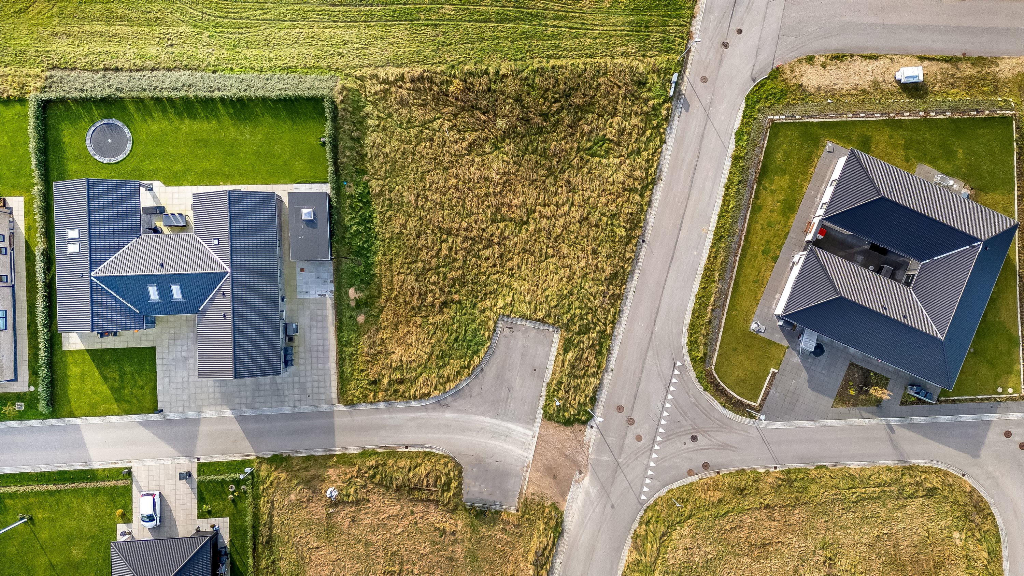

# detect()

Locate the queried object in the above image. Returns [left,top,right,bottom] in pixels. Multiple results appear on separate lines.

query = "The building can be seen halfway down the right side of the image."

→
[775,148,1024,391]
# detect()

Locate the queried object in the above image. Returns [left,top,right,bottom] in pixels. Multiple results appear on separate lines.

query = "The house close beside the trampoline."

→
[56,178,285,379]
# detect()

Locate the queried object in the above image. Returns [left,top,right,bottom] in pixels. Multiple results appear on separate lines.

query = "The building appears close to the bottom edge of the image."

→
[110,527,218,576]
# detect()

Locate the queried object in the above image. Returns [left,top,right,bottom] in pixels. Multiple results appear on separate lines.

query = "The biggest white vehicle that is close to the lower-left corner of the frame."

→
[137,490,162,527]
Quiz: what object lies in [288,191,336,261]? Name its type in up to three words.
building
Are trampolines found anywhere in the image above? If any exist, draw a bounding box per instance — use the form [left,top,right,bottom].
[85,117,132,163]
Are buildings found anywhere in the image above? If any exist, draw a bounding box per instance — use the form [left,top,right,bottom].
[0,211,16,382]
[110,527,218,576]
[775,148,1024,391]
[56,178,285,379]
[288,191,336,261]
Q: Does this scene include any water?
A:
No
